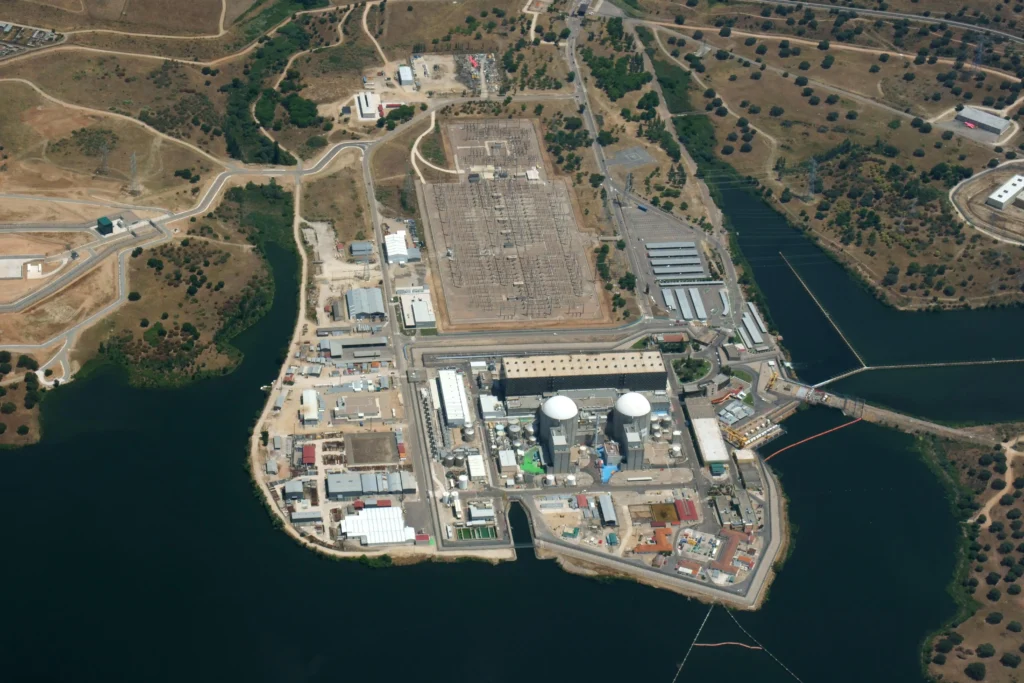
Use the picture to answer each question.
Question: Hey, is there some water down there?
Yes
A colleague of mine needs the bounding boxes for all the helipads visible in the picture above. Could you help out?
[607,147,656,167]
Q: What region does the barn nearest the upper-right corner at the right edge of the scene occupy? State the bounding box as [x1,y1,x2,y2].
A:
[956,106,1010,132]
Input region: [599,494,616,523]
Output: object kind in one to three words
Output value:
building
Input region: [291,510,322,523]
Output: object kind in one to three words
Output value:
shed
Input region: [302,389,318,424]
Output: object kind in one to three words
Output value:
building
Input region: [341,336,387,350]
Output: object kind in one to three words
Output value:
shed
